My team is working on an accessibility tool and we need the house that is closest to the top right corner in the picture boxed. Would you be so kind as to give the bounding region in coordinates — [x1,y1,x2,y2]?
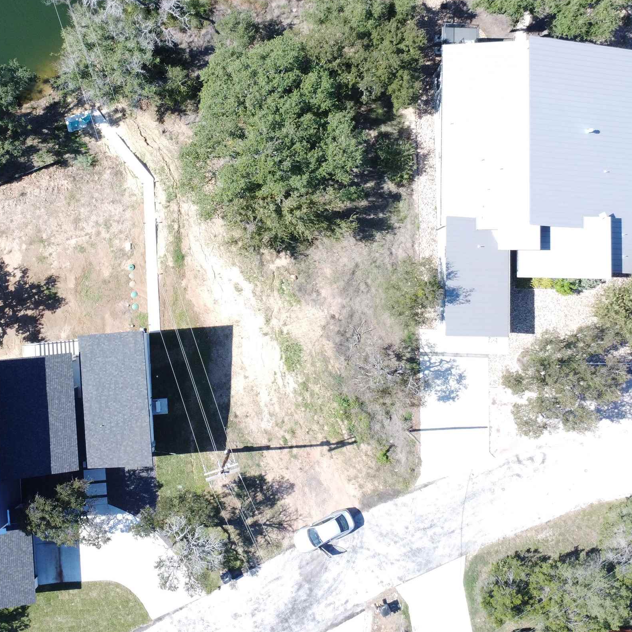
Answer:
[436,35,632,337]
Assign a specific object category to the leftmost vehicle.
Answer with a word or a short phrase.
automobile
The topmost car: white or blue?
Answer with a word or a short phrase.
white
